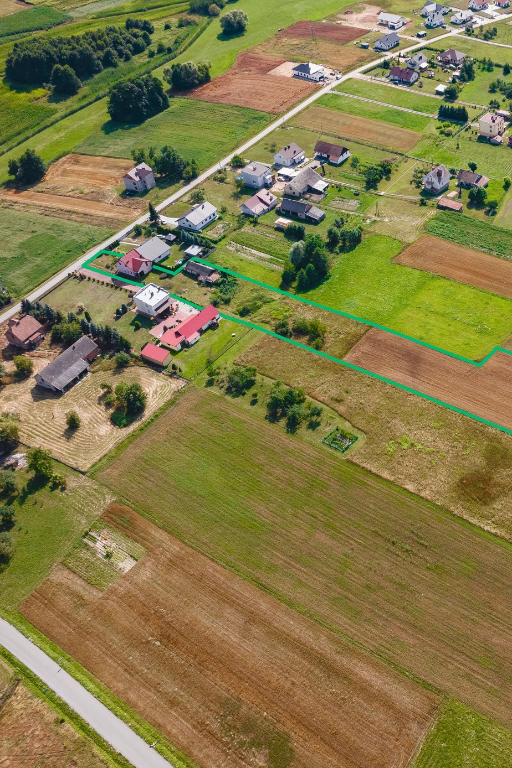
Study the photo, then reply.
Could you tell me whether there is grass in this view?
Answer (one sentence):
Yes, grass can be seen from above here.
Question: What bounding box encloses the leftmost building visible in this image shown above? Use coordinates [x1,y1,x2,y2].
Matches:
[4,315,47,346]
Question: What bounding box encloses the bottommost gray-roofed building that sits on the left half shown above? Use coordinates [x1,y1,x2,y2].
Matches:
[32,335,102,396]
